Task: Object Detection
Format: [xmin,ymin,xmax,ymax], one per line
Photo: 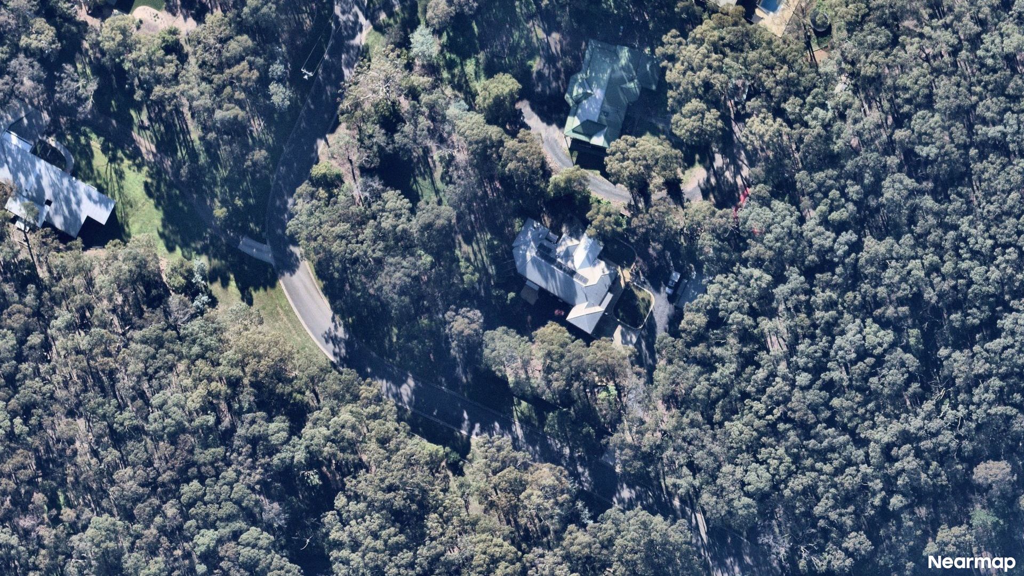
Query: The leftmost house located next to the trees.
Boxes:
[0,132,115,239]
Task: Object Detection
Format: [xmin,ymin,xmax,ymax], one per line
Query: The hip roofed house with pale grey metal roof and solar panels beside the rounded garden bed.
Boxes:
[512,217,618,336]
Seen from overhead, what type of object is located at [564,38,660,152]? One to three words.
house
